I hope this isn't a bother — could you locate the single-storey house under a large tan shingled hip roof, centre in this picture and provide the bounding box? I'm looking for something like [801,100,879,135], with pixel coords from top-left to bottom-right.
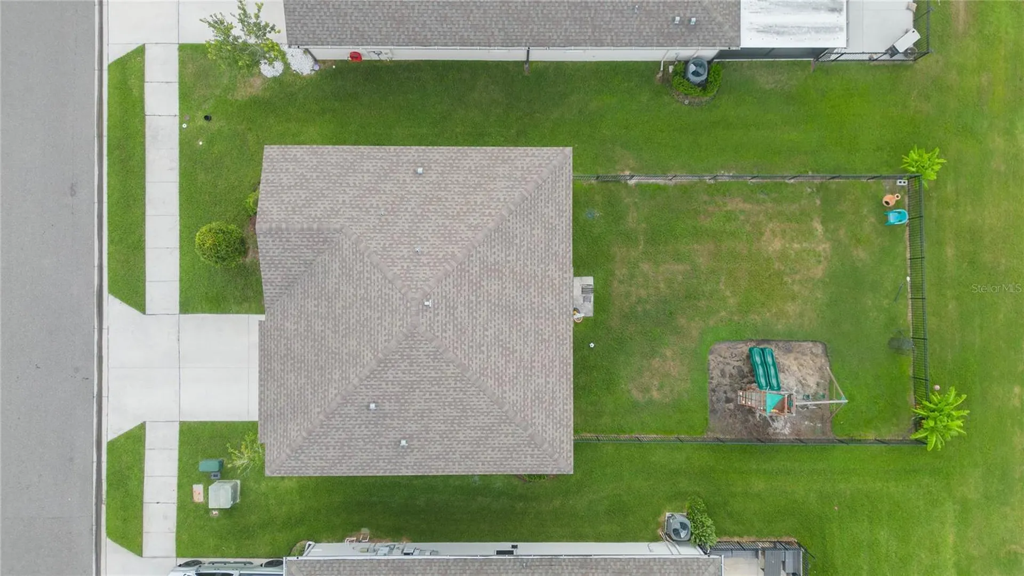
[255,145,573,476]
